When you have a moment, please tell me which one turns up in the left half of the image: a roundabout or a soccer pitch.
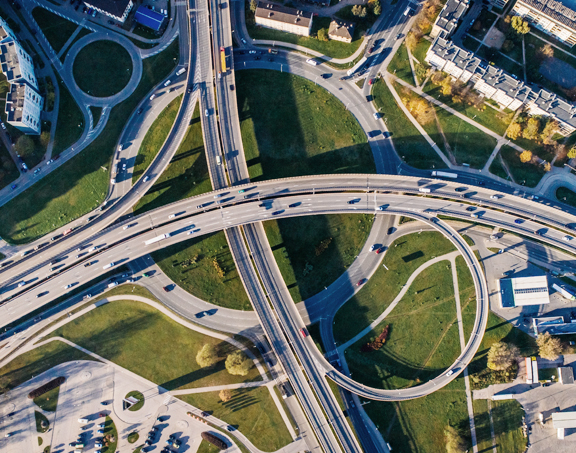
roundabout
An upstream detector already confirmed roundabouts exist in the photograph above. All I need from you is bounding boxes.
[65,32,141,105]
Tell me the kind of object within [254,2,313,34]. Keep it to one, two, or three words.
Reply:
building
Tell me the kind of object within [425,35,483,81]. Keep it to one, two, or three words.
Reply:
building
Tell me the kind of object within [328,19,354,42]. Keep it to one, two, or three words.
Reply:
house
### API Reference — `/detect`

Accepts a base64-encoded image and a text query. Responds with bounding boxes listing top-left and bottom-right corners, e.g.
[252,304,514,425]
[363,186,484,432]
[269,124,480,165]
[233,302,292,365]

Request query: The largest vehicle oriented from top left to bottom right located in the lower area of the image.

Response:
[548,281,573,299]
